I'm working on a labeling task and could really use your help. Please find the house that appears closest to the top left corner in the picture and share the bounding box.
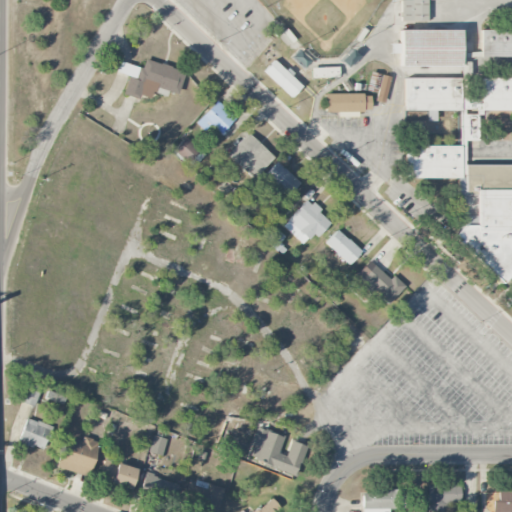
[118,57,186,98]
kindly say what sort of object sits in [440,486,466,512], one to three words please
house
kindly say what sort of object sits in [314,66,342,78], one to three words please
building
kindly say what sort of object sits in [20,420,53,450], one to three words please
house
